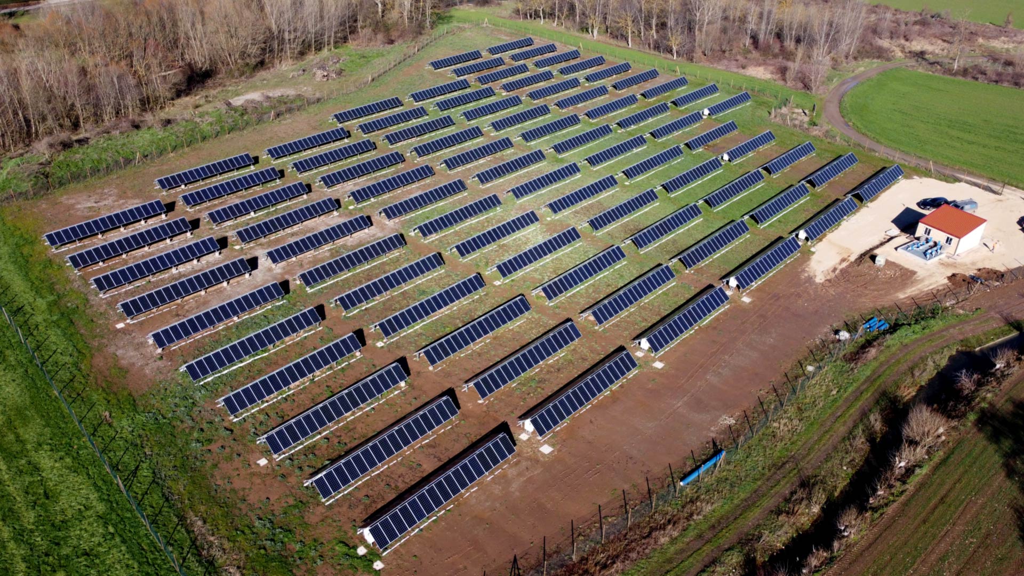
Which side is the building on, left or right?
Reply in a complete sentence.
The building appears in the right half of the scene.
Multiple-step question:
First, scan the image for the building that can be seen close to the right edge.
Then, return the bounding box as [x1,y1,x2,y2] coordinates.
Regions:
[915,202,991,255]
